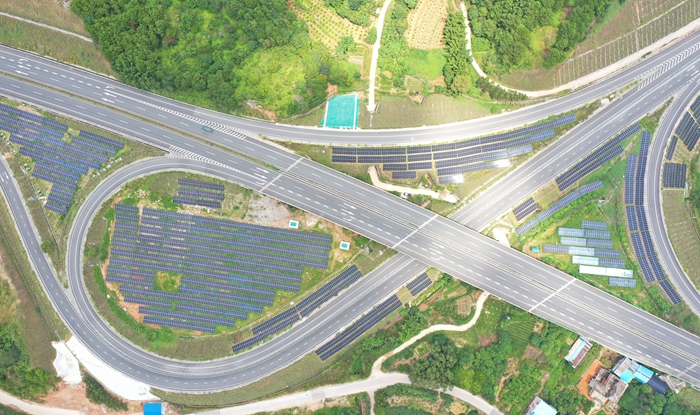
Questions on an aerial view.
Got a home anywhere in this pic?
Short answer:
Yes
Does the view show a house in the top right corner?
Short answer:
No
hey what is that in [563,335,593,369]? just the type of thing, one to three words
shed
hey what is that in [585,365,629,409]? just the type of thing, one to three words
house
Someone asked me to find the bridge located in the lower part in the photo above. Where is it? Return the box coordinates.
[262,149,700,396]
